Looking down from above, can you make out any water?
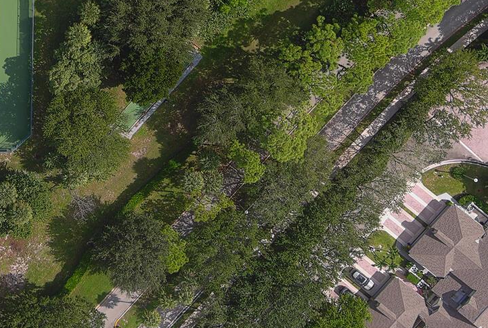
No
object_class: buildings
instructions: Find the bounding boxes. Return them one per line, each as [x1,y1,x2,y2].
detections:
[400,203,488,301]
[342,272,488,328]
